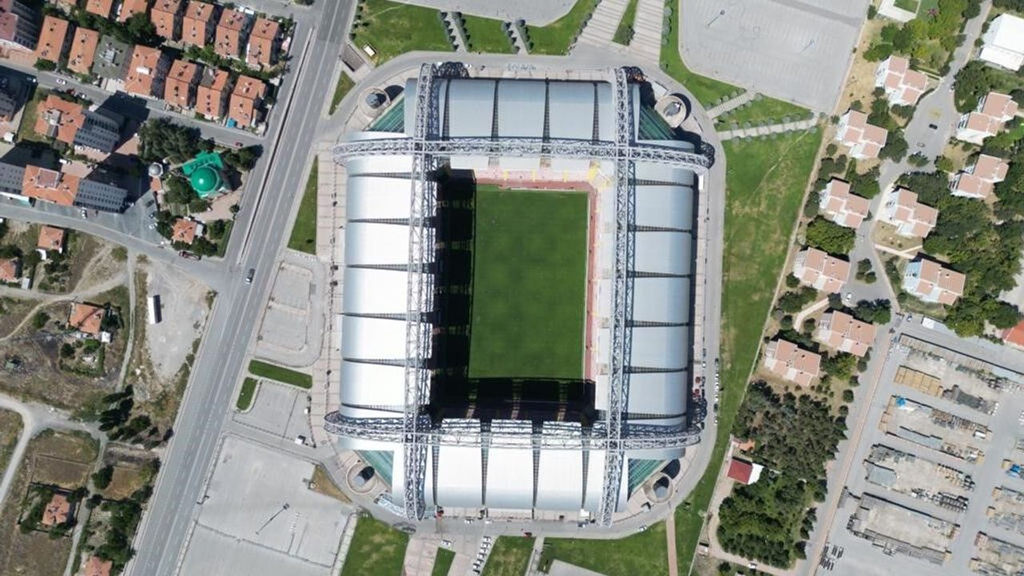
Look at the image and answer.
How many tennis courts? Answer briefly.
0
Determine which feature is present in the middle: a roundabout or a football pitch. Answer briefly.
football pitch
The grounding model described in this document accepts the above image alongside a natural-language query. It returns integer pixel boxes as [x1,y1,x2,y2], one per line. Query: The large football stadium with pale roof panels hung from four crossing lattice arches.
[326,61,710,526]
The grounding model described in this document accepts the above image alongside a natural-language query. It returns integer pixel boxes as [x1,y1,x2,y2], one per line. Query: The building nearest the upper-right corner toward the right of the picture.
[956,20,1024,86]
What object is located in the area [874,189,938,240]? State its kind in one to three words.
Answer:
house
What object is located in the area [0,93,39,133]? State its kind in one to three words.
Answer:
building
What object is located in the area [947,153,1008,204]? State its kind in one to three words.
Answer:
house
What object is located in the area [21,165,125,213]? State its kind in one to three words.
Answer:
building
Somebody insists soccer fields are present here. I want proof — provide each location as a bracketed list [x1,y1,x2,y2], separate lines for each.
[437,178,598,409]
